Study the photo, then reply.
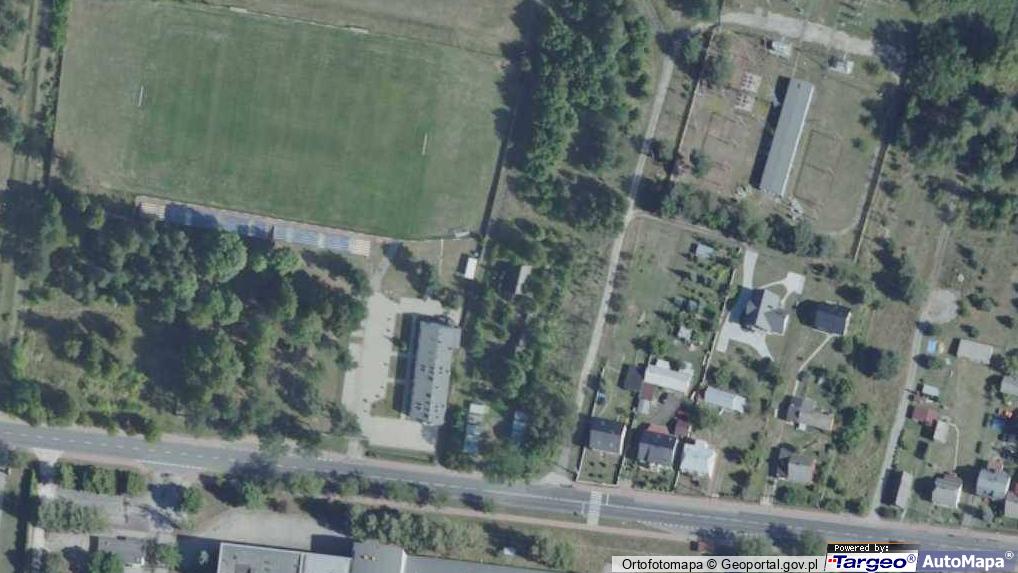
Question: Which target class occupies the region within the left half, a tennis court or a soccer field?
soccer field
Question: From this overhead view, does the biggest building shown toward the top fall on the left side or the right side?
right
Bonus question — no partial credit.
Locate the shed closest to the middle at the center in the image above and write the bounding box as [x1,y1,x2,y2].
[506,264,532,296]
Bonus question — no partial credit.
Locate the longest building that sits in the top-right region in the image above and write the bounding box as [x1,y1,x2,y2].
[761,79,816,199]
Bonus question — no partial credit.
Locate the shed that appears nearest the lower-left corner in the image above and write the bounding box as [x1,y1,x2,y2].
[27,526,48,550]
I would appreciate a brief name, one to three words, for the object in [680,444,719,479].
house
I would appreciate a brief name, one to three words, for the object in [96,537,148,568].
building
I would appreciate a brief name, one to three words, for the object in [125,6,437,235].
soccer field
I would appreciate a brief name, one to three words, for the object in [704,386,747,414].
shed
